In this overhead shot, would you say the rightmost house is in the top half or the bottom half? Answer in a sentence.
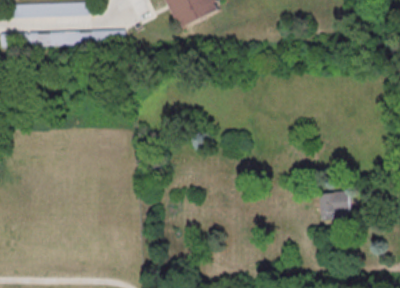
The rightmost house sits in the bottom half of the picture.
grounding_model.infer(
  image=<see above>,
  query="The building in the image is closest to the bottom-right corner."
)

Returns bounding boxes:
[320,191,352,224]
